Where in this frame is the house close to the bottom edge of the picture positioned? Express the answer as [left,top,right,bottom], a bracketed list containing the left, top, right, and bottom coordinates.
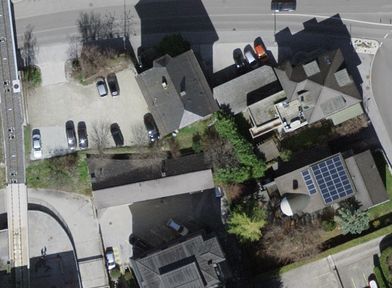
[129,234,226,288]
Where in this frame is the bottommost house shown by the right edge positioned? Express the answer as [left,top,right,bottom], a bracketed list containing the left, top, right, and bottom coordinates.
[264,150,390,216]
